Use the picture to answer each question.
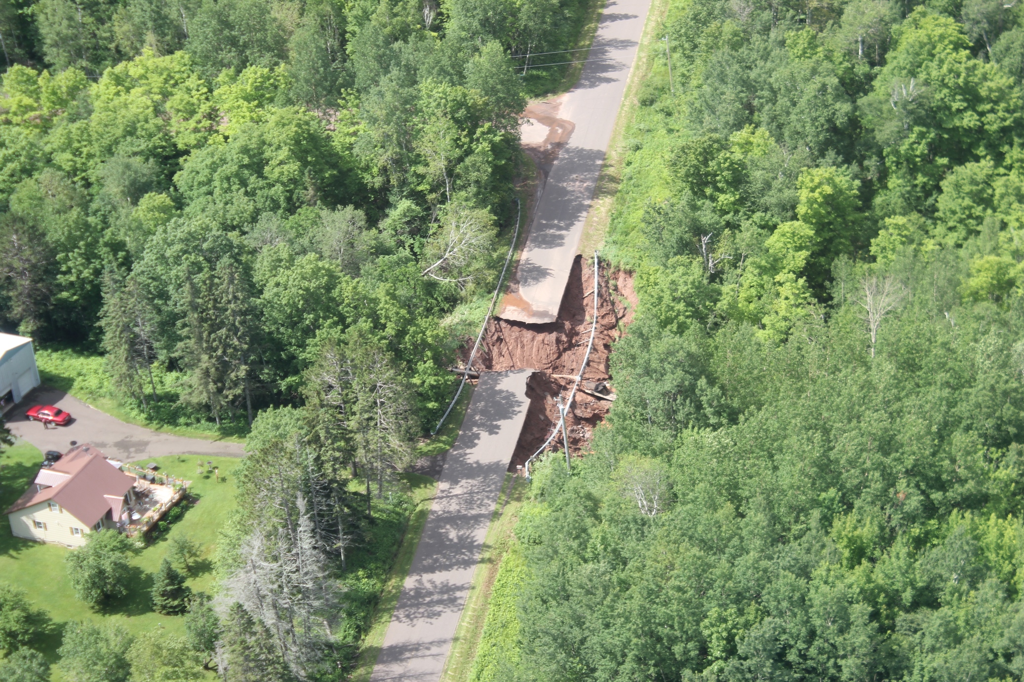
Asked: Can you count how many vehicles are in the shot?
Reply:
2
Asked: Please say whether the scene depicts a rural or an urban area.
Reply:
rural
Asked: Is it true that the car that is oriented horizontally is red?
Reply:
Yes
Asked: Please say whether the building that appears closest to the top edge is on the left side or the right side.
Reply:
left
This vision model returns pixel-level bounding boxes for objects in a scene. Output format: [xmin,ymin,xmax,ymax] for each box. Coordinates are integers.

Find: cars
[37,444,72,476]
[21,403,72,426]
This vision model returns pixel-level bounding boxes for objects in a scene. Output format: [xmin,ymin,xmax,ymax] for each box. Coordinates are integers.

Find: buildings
[6,441,140,554]
[0,331,52,434]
